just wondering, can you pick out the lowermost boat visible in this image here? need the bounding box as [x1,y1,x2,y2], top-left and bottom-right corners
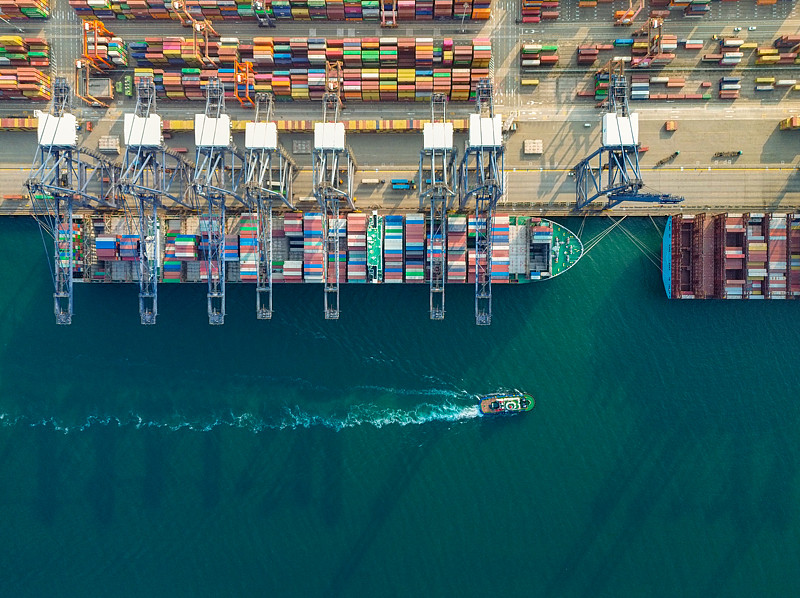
[478,392,534,414]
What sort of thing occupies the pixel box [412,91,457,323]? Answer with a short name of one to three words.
container crane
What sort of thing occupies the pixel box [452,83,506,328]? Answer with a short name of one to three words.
container crane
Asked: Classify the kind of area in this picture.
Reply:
port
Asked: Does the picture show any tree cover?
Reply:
No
